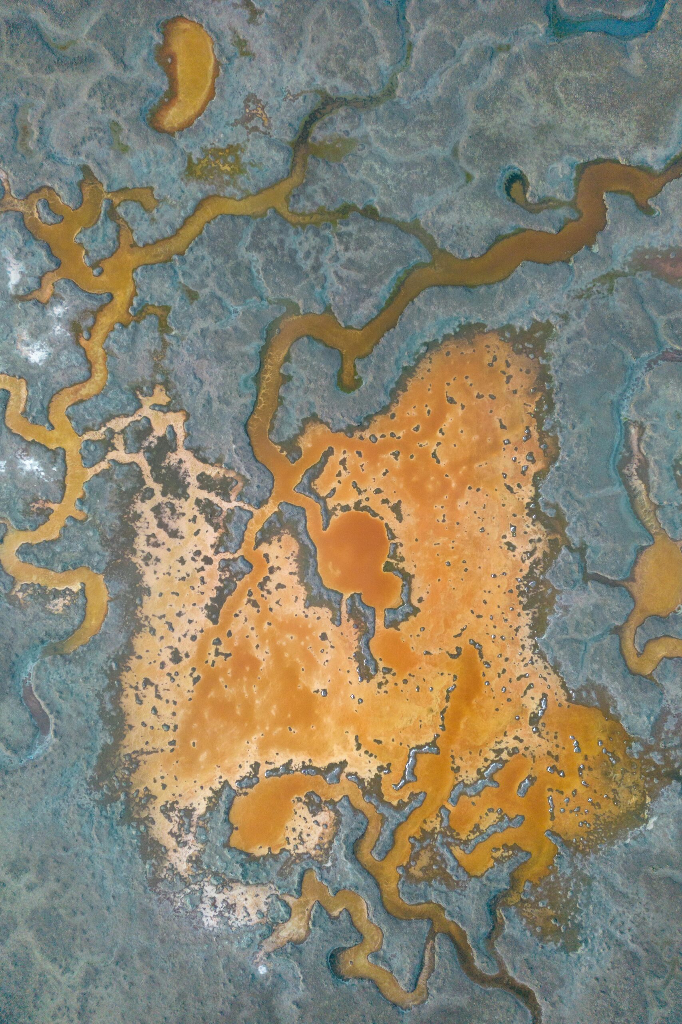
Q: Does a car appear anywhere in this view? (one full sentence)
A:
No, there is no car in the image.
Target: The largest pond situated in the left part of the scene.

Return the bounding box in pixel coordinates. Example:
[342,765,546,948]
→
[146,15,221,135]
